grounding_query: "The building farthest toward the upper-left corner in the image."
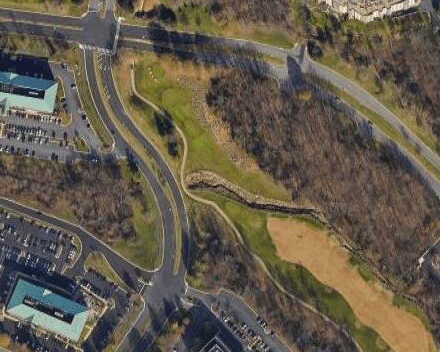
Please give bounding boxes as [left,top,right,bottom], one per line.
[0,70,58,113]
